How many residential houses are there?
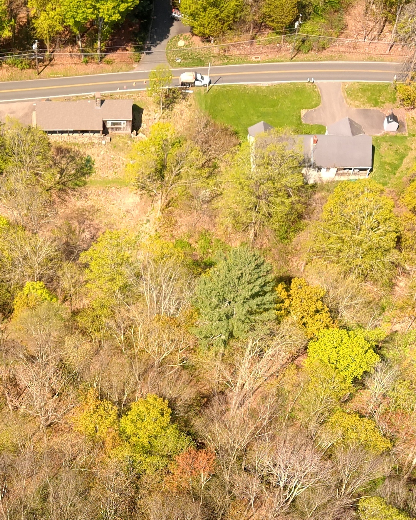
2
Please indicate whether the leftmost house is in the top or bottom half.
top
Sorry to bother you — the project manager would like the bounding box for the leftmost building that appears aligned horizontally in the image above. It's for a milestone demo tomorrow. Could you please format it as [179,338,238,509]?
[35,96,133,139]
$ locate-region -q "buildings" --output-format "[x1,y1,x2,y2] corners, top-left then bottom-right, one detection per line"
[382,113,399,133]
[247,117,373,183]
[35,96,133,139]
